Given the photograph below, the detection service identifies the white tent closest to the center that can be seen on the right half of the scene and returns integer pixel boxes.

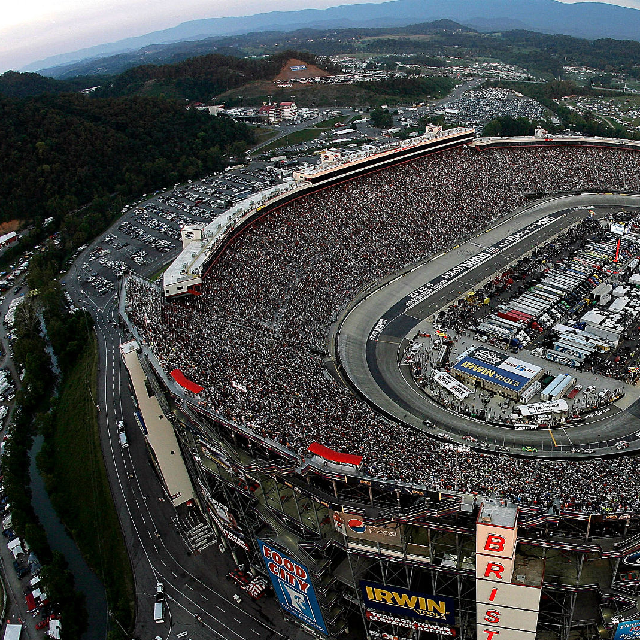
[433,373,475,406]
